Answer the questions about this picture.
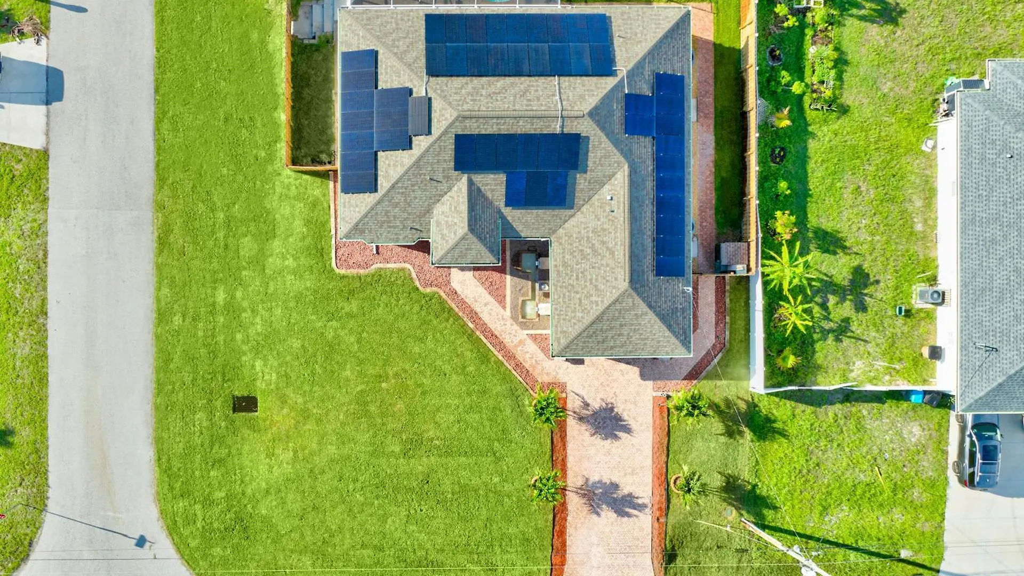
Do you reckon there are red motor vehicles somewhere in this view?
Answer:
No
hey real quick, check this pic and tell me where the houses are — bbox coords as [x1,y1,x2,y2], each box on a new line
[337,6,695,357]
[938,60,1024,412]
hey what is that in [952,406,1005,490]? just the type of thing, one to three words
car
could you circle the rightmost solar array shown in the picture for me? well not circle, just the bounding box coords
[624,73,684,277]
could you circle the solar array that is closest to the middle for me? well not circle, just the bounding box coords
[455,133,580,207]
